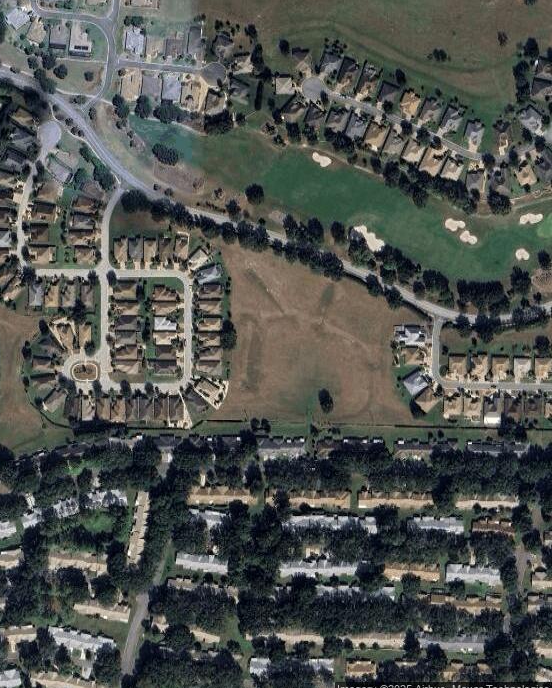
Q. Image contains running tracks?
No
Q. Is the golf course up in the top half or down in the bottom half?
top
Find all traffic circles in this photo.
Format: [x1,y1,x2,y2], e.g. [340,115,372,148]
[63,354,108,389]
